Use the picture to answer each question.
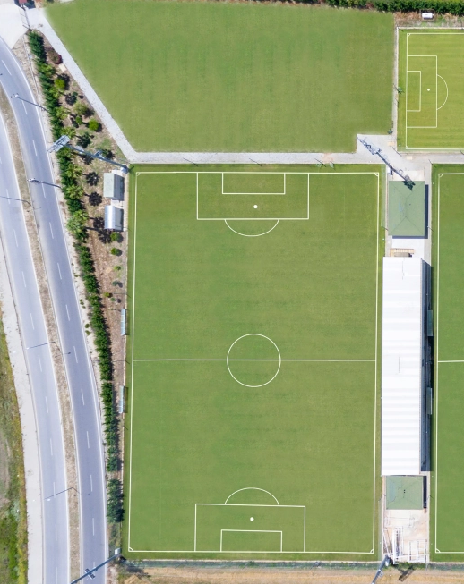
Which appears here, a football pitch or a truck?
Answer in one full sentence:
Visible in the photo is a football pitch.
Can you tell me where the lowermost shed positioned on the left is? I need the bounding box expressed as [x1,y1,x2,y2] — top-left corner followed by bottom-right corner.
[105,206,124,231]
